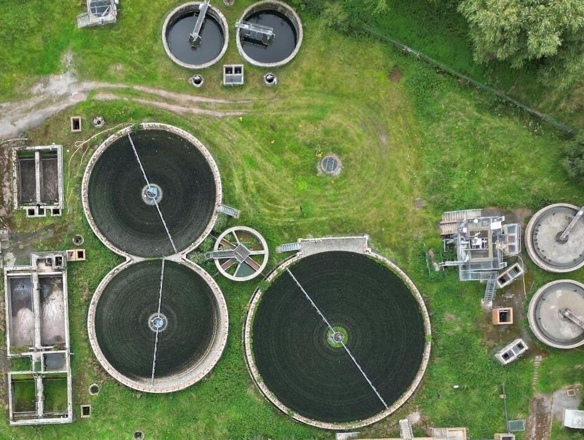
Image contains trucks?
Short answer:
No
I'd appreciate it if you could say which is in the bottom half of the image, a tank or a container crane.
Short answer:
tank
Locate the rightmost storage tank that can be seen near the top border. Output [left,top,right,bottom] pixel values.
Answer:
[235,0,303,69]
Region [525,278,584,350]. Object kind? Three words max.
storage tank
